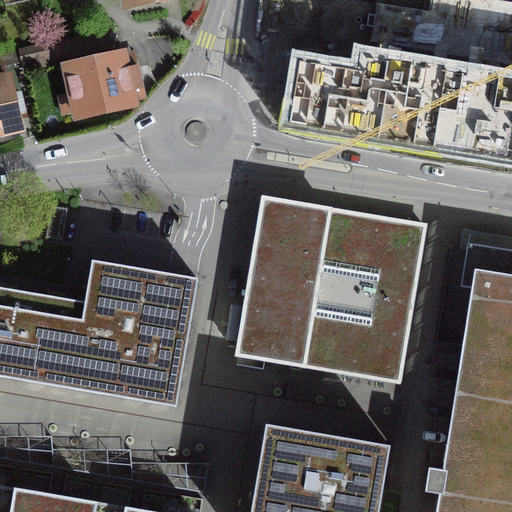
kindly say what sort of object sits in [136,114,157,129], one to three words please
car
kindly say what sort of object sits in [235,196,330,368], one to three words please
building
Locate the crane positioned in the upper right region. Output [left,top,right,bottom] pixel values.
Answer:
[300,64,512,170]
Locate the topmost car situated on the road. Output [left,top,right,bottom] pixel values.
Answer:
[170,76,187,100]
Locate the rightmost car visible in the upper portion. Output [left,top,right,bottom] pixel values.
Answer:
[421,164,446,176]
